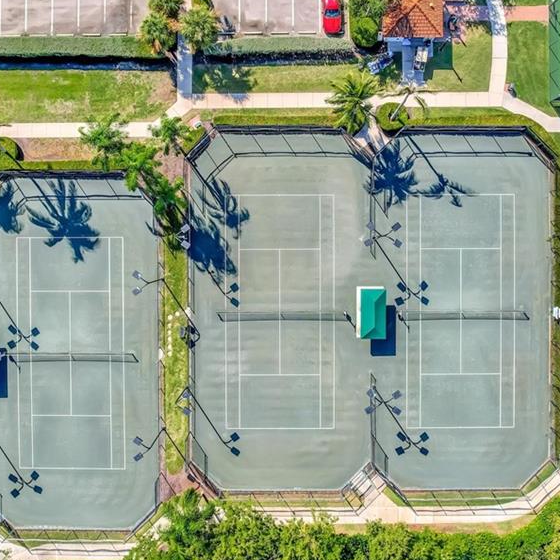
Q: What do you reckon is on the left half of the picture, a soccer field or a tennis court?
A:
tennis court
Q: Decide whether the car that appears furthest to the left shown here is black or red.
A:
red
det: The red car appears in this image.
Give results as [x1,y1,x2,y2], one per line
[321,0,344,34]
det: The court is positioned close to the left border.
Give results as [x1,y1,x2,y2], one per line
[0,176,158,529]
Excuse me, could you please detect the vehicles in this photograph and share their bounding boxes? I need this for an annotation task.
[369,51,394,71]
[321,0,344,34]
[414,43,431,68]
